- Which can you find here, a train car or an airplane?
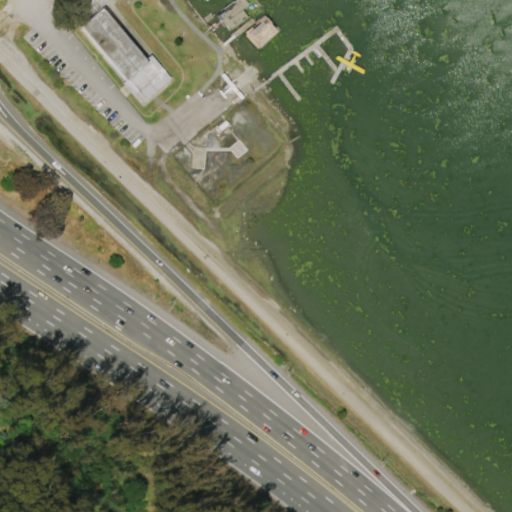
airplane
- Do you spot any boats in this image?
Yes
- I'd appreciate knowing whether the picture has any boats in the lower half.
No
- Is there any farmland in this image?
No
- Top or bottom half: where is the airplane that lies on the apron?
top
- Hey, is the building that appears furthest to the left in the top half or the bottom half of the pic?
top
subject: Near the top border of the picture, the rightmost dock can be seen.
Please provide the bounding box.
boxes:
[254,26,356,102]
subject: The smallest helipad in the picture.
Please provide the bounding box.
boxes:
[230,140,249,159]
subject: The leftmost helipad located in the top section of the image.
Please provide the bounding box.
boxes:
[186,143,207,170]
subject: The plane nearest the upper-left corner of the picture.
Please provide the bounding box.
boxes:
[220,72,246,100]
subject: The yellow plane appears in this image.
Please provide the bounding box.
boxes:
[335,50,366,74]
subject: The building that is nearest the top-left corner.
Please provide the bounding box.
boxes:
[82,8,173,105]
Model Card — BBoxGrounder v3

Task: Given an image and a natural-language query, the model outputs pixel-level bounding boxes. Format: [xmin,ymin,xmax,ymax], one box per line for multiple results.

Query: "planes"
[220,72,246,100]
[335,50,366,74]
